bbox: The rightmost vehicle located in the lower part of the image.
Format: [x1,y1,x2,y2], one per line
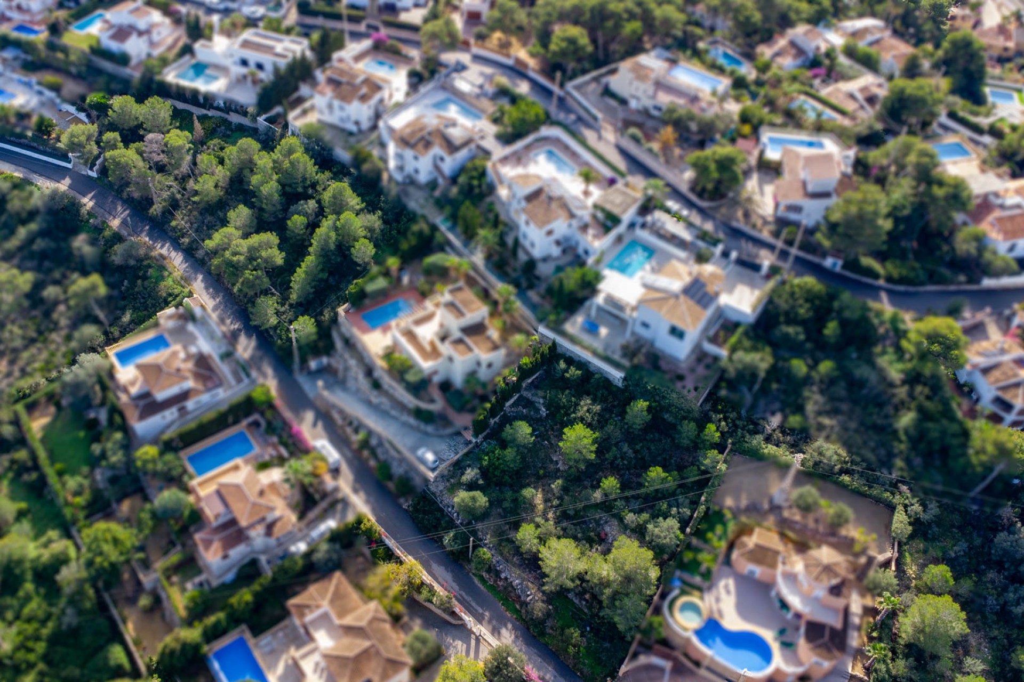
[416,446,443,470]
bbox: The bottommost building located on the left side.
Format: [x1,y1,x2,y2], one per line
[282,567,418,682]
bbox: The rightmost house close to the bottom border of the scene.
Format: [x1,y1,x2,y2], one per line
[725,527,859,682]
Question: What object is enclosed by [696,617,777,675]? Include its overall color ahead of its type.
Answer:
blue swimming pool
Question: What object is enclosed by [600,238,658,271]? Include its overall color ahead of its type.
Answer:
blue swimming pool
